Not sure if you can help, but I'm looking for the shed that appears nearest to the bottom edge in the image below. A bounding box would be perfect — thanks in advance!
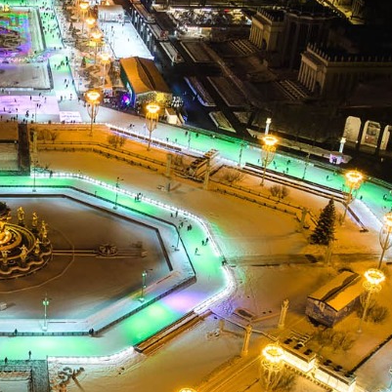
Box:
[306,278,365,325]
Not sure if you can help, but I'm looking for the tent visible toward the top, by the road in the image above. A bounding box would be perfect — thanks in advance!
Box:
[95,1,127,22]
